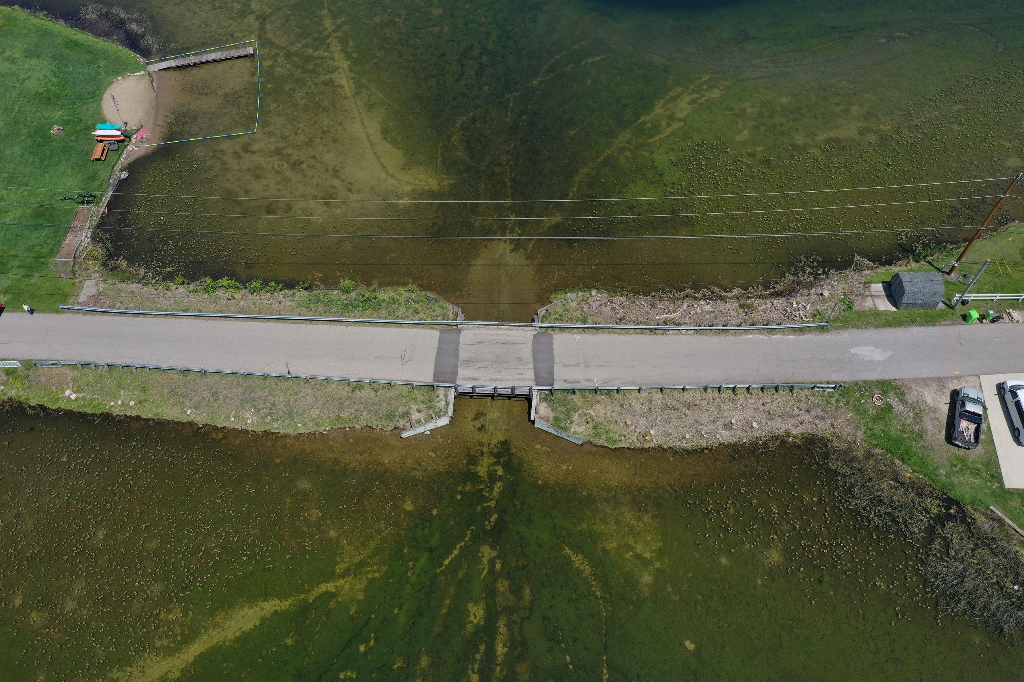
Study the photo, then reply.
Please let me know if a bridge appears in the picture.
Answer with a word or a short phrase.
Yes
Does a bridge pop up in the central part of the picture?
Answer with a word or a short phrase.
Yes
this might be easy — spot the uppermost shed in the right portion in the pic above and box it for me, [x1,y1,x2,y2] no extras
[885,272,945,309]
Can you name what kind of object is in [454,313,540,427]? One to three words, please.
bridge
